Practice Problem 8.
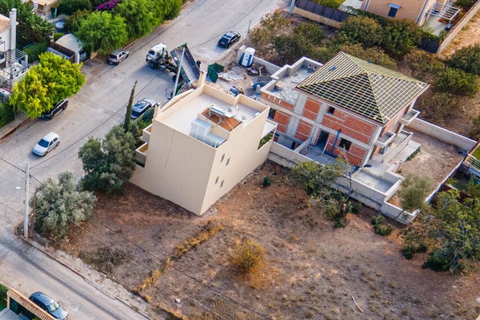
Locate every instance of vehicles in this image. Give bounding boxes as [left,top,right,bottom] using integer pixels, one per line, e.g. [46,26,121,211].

[31,130,63,156]
[216,31,243,49]
[38,94,72,120]
[133,94,160,114]
[104,50,131,67]
[24,284,73,320]
[151,34,203,86]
